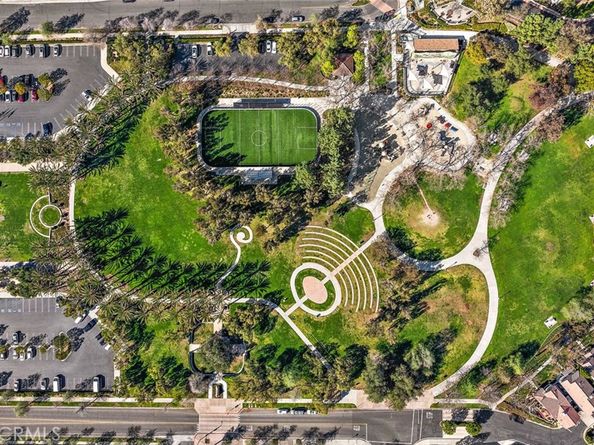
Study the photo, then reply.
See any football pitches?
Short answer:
Yes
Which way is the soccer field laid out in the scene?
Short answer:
from side to side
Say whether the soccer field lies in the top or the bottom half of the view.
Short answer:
top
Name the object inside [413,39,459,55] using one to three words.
building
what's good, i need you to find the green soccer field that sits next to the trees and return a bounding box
[200,108,319,168]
